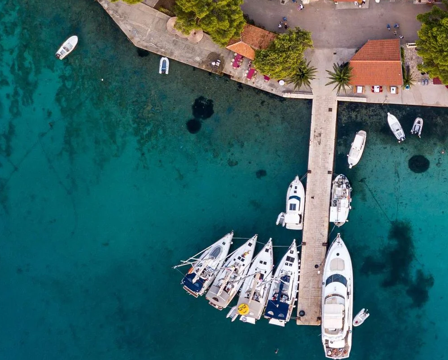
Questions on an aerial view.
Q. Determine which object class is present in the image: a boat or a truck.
boat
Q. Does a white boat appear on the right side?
Yes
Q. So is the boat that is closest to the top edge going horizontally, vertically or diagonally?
diagonally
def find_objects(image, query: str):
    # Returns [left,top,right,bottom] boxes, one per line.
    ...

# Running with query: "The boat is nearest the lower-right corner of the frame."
[352,307,371,328]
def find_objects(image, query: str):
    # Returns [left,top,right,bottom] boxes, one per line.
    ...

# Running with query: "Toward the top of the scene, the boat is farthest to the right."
[410,116,423,138]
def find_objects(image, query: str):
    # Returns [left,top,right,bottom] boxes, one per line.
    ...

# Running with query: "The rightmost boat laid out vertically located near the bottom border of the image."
[321,232,353,360]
